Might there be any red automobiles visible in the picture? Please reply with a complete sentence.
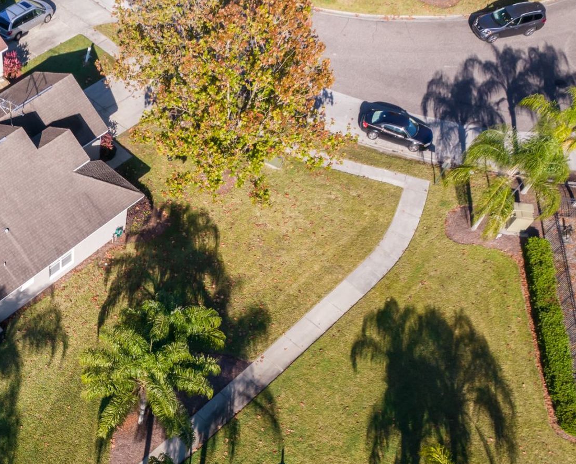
No, there's no red automobile here.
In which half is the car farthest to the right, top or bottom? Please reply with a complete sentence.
Seen from above, the car farthest to the right lies in the top half of the view.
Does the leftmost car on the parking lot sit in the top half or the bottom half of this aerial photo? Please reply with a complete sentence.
You can find the leftmost car on the parking lot in the top half.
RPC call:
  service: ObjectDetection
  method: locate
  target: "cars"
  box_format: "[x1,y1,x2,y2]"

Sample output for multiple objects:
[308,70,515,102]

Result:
[0,0,53,41]
[474,2,546,43]
[361,110,432,153]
